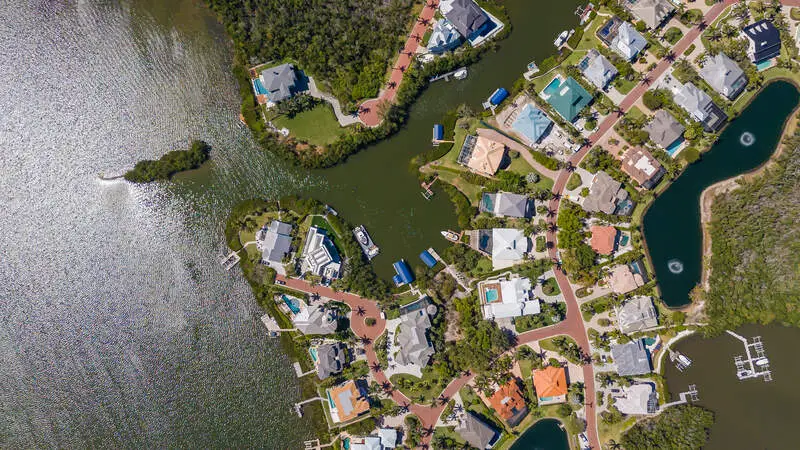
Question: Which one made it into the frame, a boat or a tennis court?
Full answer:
The one in the frame is a boat.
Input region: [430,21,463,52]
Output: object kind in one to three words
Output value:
house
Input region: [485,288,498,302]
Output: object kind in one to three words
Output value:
swimming pool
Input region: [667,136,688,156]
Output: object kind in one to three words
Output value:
swimming pool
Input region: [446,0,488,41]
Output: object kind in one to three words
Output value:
house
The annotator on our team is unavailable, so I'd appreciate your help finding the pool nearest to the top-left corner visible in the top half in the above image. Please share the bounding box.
[254,77,269,97]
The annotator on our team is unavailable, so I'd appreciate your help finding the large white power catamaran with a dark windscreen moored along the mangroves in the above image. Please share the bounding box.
[354,227,379,259]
